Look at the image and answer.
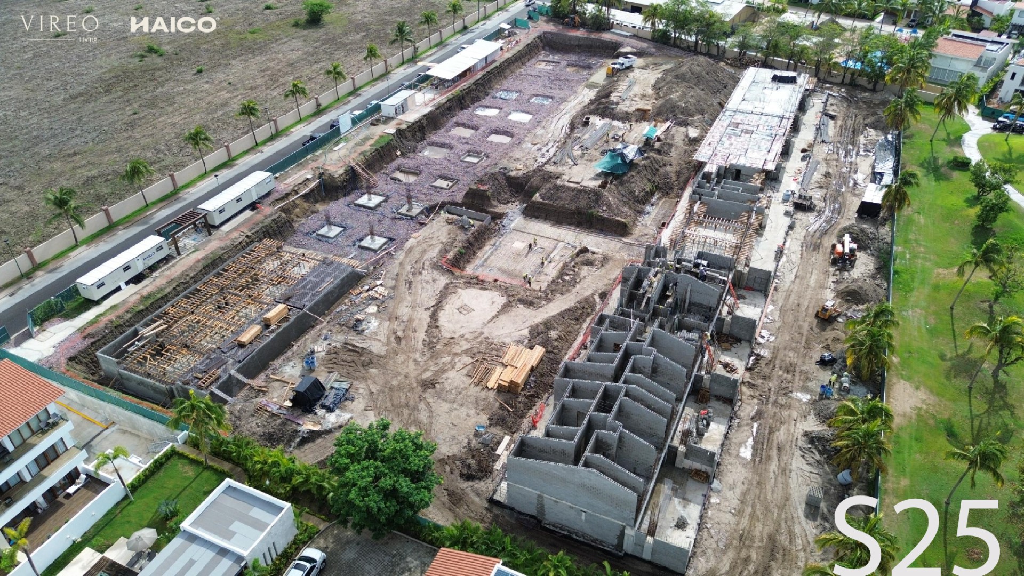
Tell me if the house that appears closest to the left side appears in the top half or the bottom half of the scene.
bottom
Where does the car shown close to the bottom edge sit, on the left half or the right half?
left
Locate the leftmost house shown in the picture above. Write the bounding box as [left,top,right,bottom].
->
[0,350,132,576]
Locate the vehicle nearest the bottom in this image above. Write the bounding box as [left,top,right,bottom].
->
[275,550,330,576]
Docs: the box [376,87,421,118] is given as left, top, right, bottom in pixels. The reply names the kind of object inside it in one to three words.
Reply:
building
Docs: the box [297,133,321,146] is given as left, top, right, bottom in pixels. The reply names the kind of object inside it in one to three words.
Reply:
vehicle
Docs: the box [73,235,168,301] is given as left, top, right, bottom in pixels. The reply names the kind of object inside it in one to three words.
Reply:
trailer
